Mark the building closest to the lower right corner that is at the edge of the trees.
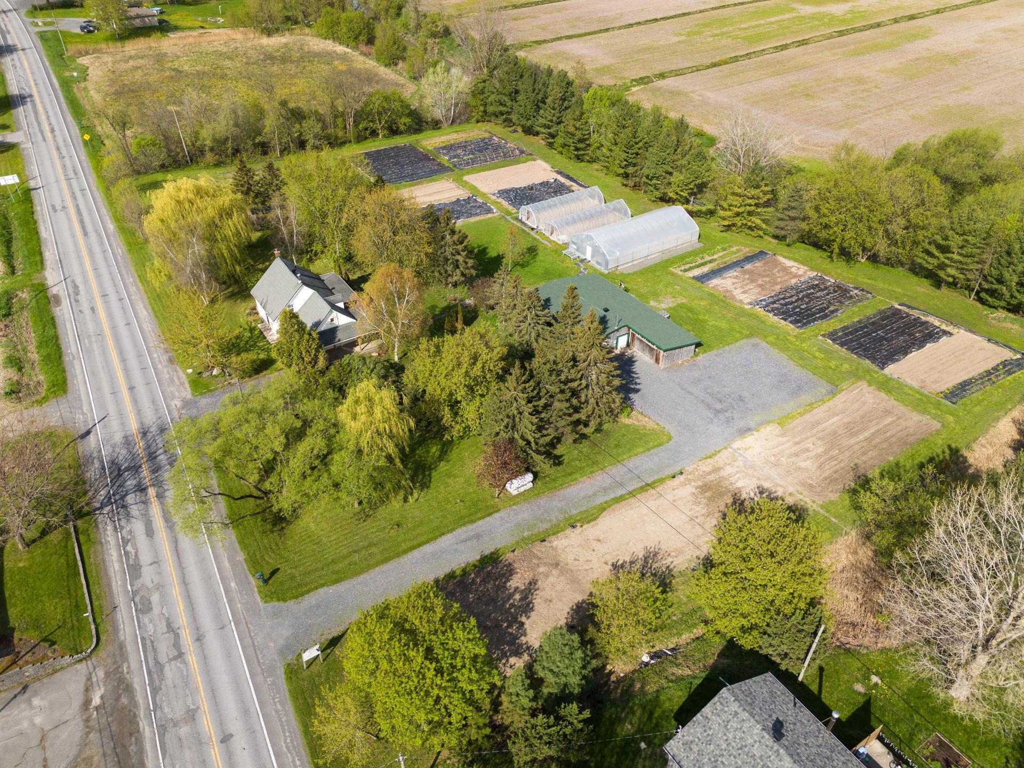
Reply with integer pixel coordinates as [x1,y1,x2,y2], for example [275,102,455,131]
[660,665,870,768]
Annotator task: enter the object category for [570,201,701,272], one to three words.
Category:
greenhouse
